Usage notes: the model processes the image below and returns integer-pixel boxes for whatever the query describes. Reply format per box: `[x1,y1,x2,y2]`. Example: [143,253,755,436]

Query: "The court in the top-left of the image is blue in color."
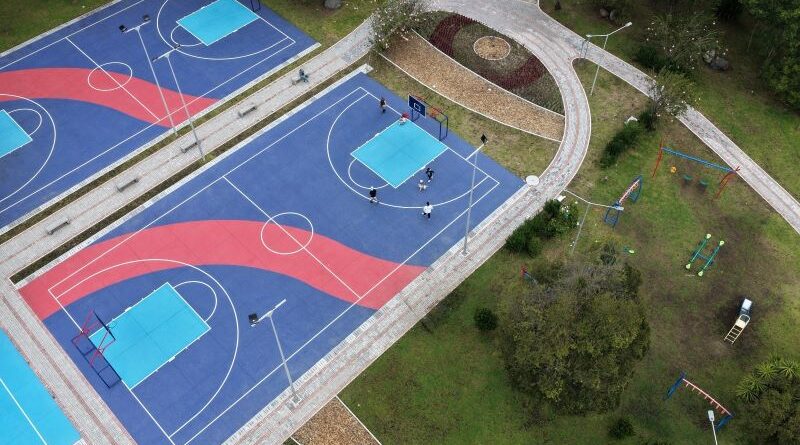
[0,0,320,232]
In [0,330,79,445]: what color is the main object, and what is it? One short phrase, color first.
blue sports court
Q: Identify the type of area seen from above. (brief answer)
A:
sports ground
